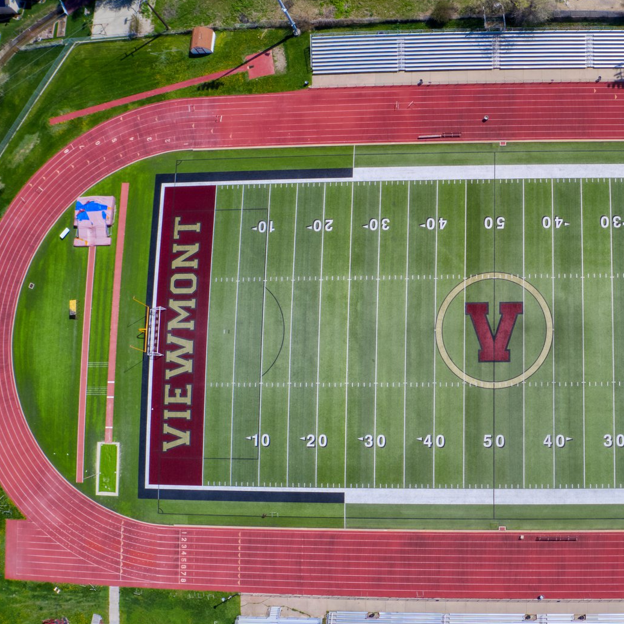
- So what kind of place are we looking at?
sports ground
